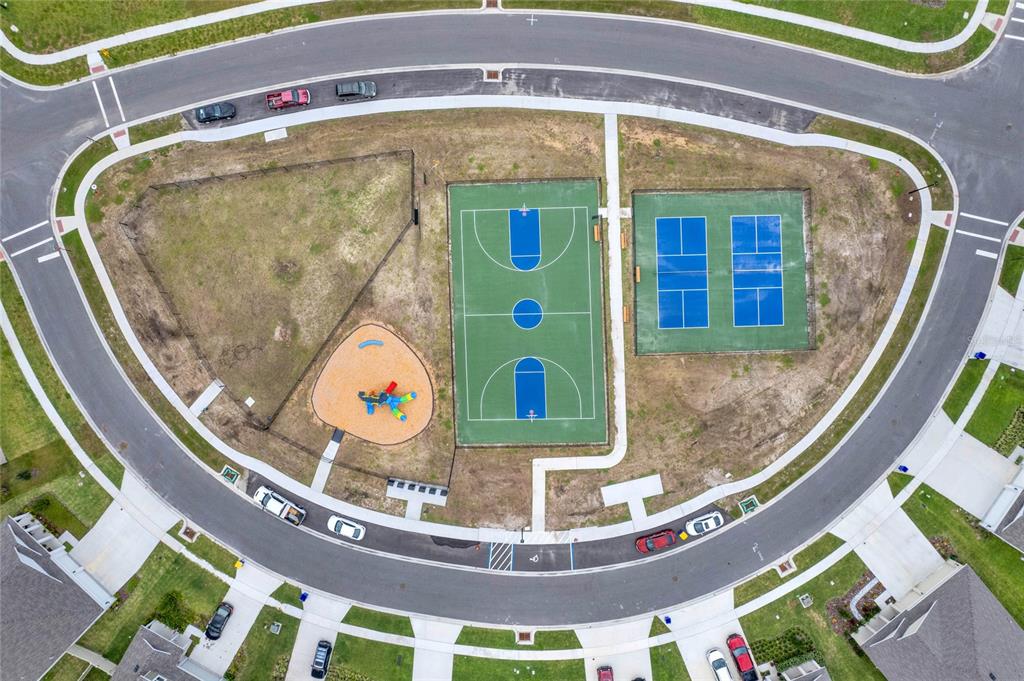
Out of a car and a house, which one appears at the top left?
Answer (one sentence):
Visible at the top left is a car.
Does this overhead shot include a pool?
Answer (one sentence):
No, the photo shows no pool.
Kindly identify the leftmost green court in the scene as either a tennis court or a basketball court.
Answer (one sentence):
It turns out the leftmost green court is a basketball court.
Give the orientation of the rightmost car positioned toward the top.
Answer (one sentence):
I'd say the rightmost car positioned toward the top is aligned horizontally in the picture.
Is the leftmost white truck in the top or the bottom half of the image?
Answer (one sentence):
The leftmost white truck is in the bottom half of the image.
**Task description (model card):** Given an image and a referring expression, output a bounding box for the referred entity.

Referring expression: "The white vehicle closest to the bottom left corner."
[255,487,308,526]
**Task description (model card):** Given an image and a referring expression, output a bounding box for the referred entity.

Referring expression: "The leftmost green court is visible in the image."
[447,178,609,447]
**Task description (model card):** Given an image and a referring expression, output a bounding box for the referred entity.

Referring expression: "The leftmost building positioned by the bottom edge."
[0,510,115,681]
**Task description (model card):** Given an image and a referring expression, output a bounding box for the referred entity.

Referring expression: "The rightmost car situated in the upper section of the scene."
[335,79,378,102]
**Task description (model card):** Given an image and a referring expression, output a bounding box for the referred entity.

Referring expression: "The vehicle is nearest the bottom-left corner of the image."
[207,600,234,640]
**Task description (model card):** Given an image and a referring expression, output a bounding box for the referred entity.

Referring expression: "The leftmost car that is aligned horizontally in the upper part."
[195,102,237,124]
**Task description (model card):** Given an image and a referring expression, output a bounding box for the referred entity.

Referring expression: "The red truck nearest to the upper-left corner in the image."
[264,87,312,111]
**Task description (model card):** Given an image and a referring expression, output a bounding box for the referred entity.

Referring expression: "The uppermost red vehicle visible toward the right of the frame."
[635,528,677,553]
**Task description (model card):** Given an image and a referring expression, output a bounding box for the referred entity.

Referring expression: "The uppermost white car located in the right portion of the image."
[684,510,725,535]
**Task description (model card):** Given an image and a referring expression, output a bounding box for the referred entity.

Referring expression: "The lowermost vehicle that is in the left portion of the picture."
[310,638,334,679]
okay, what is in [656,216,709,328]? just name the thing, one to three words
sports court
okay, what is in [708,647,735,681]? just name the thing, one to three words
car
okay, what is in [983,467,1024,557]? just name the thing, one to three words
house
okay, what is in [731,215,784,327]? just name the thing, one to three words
sports court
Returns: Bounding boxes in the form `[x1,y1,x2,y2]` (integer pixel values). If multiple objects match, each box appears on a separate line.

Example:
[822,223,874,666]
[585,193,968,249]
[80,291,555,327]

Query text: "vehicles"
[708,647,735,681]
[635,528,677,553]
[310,638,334,679]
[327,514,367,541]
[207,600,234,640]
[596,664,615,681]
[335,79,378,102]
[684,510,725,535]
[255,487,308,526]
[264,87,312,111]
[728,633,761,681]
[195,102,237,124]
